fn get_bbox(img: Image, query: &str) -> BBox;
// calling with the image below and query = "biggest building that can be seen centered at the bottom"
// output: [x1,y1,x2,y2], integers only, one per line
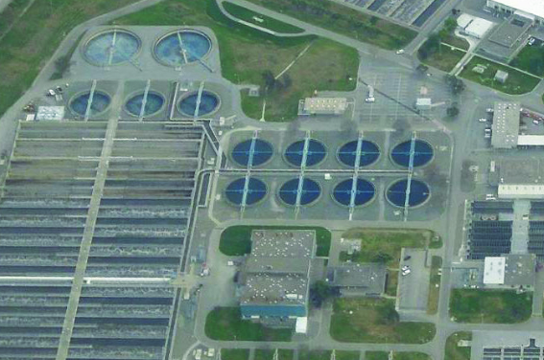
[233,231,317,330]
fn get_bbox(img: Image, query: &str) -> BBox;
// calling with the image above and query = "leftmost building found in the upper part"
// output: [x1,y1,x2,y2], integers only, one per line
[303,98,348,115]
